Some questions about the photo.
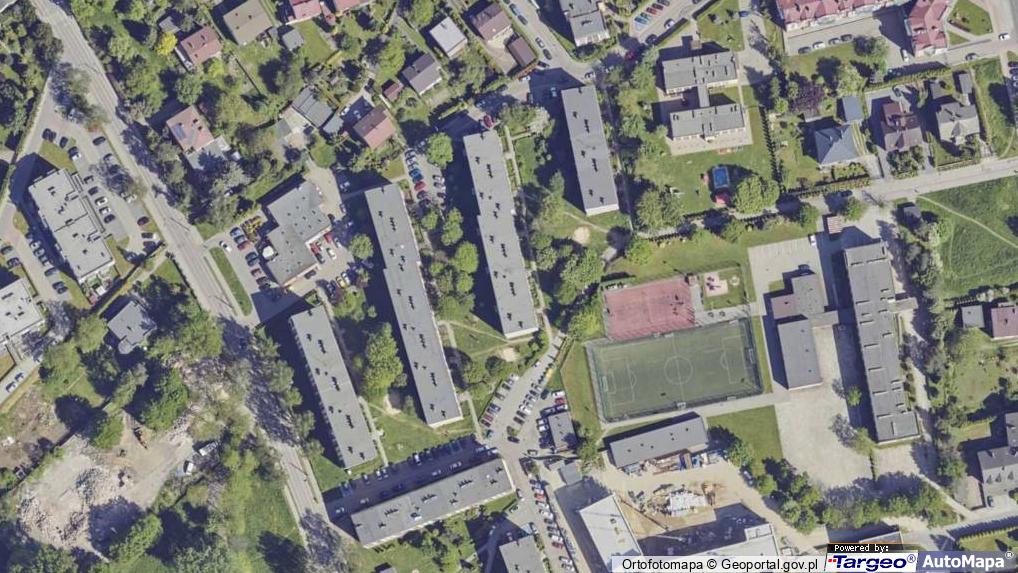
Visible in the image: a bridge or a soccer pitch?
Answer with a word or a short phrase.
soccer pitch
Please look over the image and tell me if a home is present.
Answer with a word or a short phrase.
Yes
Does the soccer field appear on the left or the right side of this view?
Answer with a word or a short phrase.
right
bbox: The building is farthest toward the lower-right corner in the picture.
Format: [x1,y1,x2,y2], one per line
[977,447,1018,495]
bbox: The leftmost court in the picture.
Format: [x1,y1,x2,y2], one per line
[603,276,695,340]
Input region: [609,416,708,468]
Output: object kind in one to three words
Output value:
building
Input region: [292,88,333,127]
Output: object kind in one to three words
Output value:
shed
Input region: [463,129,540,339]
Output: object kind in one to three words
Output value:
building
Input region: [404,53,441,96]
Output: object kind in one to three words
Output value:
house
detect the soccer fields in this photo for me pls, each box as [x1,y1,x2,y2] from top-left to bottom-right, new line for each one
[593,314,763,422]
